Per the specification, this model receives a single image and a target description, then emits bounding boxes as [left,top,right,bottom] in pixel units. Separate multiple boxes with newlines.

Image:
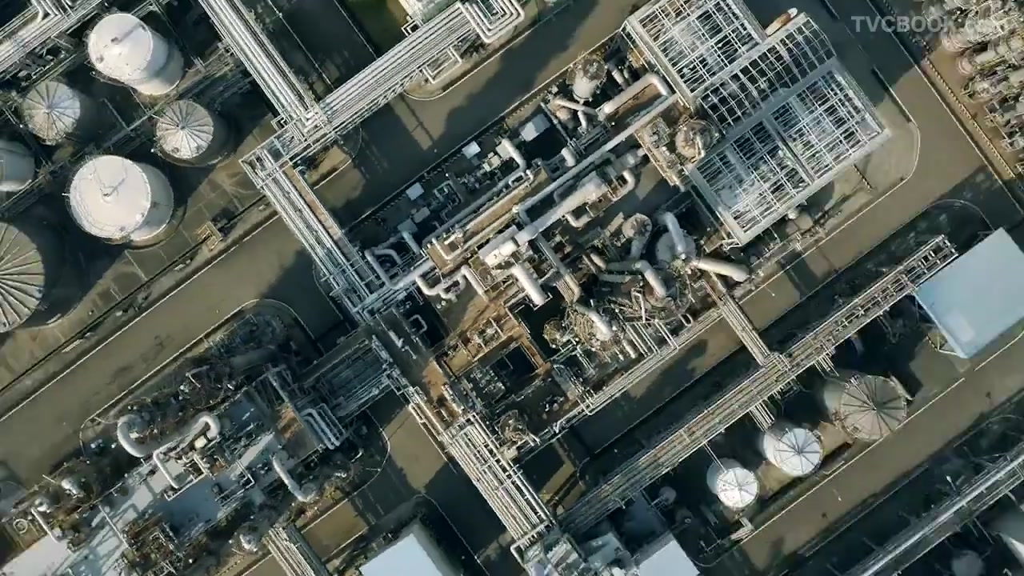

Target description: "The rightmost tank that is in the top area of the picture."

[153,100,237,172]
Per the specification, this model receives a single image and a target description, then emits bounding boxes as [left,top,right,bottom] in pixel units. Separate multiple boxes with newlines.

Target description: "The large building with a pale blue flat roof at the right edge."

[906,229,1024,356]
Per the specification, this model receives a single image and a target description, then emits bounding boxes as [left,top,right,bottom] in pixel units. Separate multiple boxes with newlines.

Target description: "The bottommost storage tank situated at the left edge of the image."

[0,221,70,335]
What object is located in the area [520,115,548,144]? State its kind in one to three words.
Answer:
shed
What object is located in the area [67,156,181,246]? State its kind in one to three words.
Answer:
storage tank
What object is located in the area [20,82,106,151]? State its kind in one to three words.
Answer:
storage tank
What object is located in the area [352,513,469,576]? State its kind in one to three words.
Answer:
building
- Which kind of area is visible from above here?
industrial area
